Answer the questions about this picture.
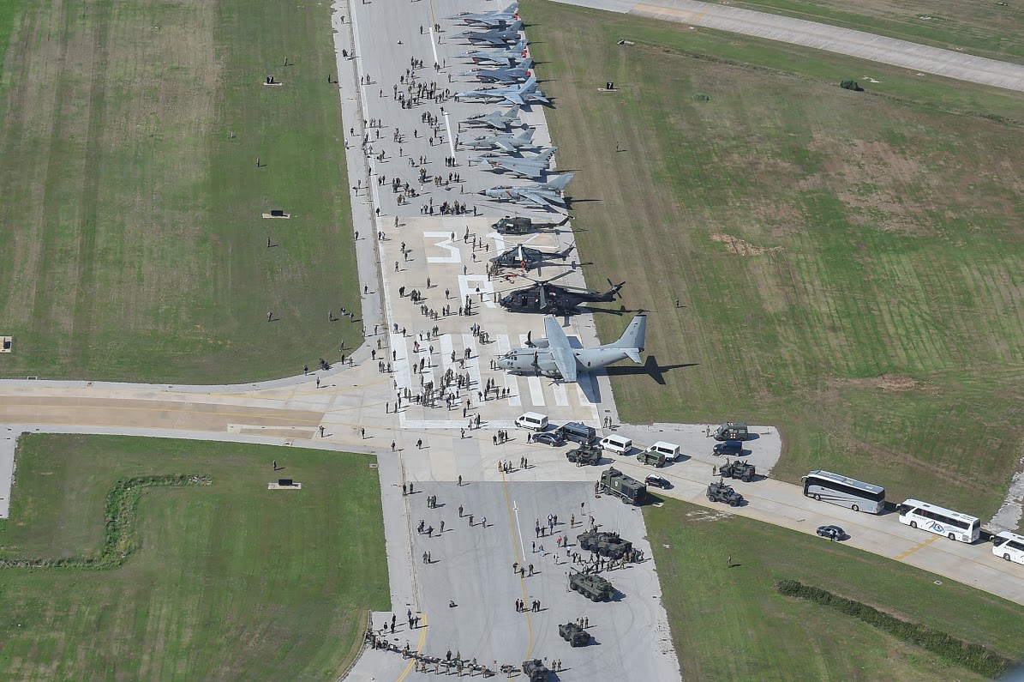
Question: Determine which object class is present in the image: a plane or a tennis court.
plane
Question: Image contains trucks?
Yes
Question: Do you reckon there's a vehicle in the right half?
Yes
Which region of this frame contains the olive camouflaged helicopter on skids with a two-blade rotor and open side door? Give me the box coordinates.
[478,207,575,235]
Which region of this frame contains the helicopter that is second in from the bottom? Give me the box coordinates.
[485,235,578,271]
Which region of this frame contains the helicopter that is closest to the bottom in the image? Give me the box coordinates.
[488,270,626,315]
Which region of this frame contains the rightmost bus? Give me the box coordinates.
[987,527,1024,563]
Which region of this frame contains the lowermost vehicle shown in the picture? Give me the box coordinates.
[524,655,551,682]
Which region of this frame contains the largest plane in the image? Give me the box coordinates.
[497,314,646,381]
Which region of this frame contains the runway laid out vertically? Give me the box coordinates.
[353,0,665,682]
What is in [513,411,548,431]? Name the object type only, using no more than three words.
vehicle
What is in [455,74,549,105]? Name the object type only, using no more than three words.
airplane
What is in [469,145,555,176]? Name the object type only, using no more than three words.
airplane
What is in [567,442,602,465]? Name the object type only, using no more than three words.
car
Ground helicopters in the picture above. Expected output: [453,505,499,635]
[478,207,575,235]
[485,235,578,271]
[488,270,626,315]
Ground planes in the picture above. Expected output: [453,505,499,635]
[497,314,646,381]
[469,145,555,176]
[451,19,522,46]
[456,102,519,129]
[457,125,532,151]
[475,169,575,204]
[455,74,549,105]
[459,57,531,84]
[450,38,527,66]
[447,1,517,27]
